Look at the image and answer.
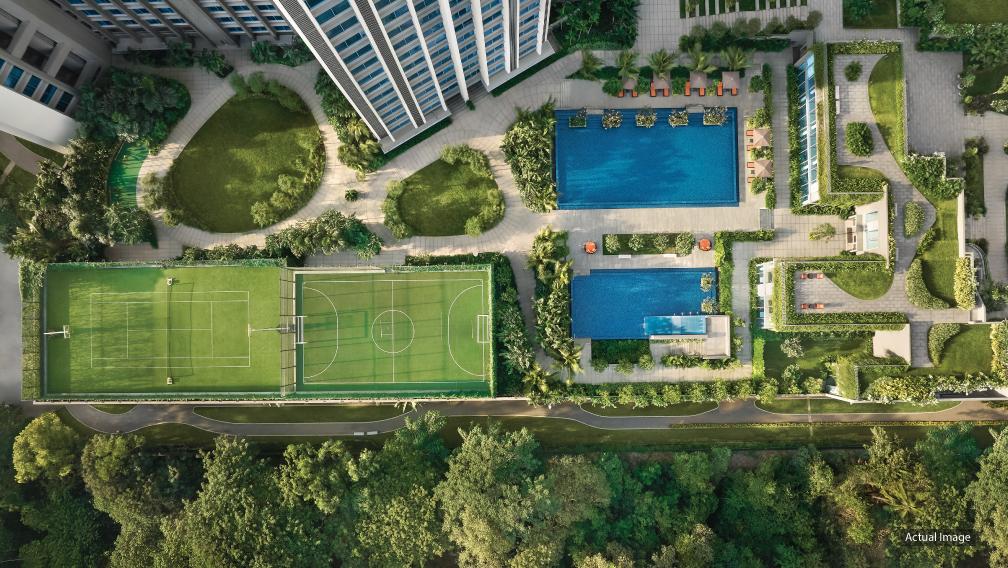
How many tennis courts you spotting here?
1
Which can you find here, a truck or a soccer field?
soccer field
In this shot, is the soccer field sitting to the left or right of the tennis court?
on its right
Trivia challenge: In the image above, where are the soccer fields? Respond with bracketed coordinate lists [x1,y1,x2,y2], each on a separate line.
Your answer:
[297,268,491,397]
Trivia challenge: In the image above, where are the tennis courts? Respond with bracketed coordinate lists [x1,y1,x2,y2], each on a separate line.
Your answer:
[45,263,295,399]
